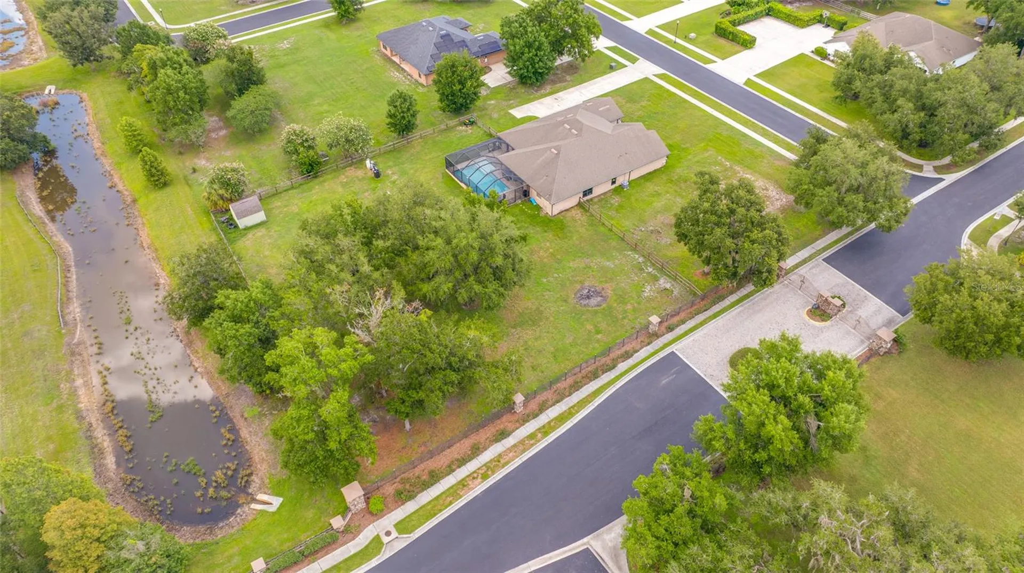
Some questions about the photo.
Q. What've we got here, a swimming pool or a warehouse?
swimming pool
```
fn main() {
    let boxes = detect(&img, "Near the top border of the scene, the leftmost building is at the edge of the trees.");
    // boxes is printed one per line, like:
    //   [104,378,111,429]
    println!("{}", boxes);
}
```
[375,14,506,85]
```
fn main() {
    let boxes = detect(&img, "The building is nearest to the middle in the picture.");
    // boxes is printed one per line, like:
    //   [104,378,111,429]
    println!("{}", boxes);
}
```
[492,97,672,216]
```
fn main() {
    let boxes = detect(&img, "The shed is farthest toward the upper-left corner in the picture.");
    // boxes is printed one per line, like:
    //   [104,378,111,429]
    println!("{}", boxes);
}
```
[230,196,266,229]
